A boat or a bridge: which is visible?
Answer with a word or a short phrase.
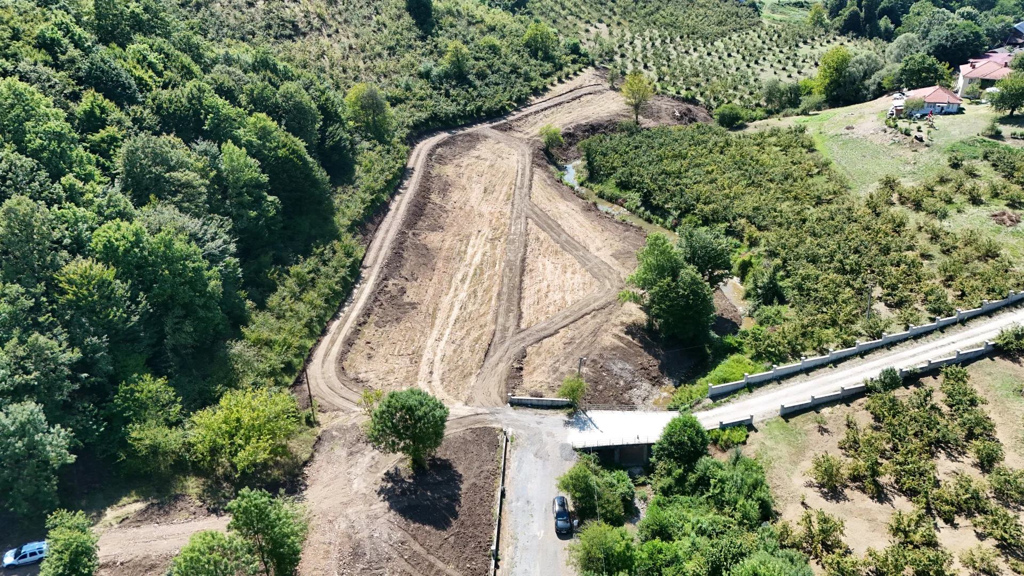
bridge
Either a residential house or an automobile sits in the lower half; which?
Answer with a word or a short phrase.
automobile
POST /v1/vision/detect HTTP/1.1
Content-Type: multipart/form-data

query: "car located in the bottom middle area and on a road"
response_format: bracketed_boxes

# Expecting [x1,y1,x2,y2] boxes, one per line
[549,495,574,537]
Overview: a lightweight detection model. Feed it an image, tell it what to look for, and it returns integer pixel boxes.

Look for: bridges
[567,403,685,459]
